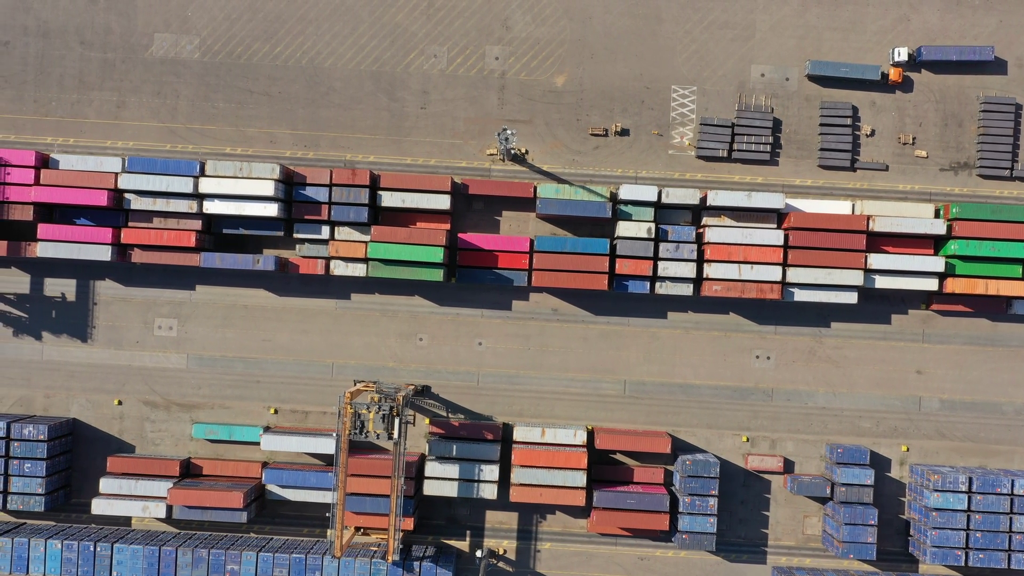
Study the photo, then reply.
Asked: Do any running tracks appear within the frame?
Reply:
No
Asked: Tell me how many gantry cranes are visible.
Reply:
one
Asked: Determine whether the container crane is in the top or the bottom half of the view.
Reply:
bottom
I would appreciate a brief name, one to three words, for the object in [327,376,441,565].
container crane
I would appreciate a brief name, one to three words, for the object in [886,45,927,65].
vehicle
